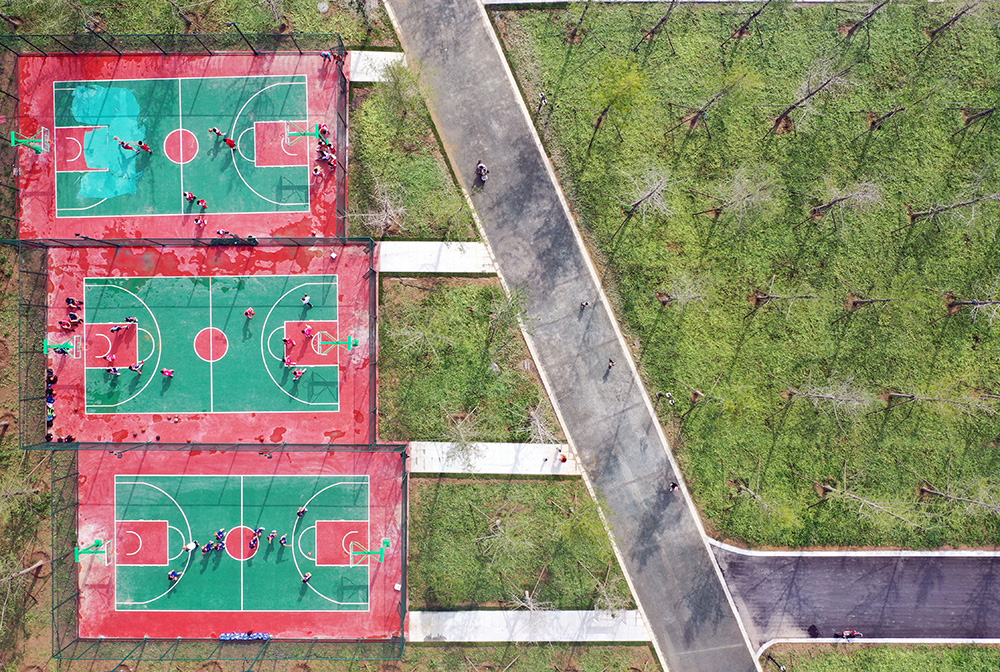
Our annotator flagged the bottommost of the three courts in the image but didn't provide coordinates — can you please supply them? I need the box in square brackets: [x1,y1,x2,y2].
[78,443,409,640]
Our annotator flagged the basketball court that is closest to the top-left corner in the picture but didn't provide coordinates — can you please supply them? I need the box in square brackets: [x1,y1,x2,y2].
[19,53,350,246]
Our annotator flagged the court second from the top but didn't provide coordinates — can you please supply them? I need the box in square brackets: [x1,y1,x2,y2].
[48,246,378,442]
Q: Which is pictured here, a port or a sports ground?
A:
sports ground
